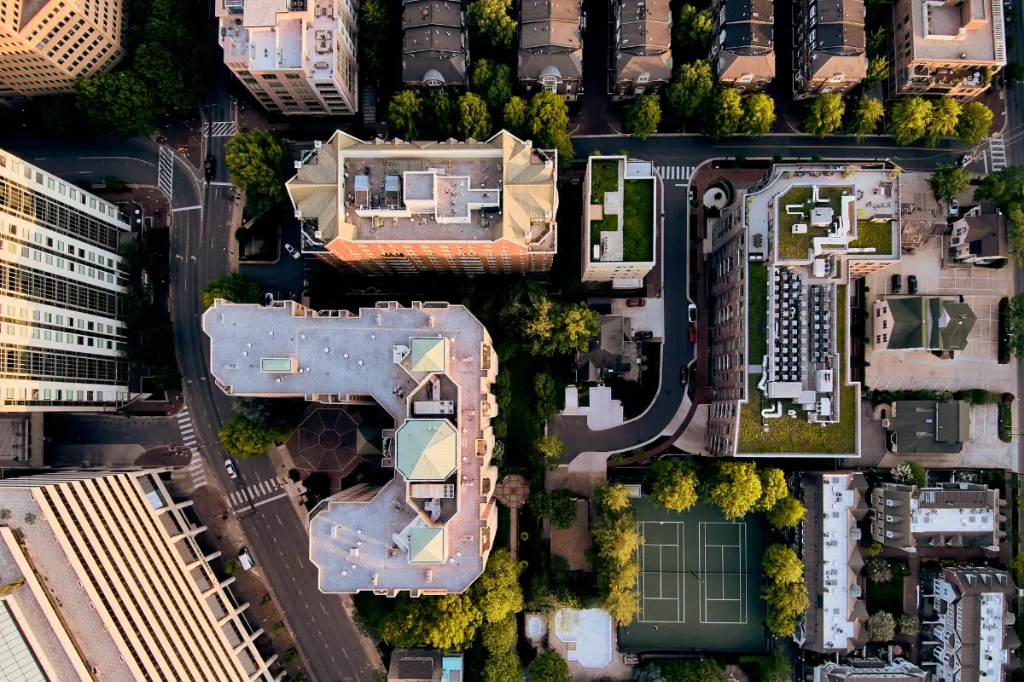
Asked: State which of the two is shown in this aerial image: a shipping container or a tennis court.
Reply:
tennis court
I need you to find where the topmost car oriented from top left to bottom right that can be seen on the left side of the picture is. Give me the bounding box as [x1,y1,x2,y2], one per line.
[284,243,302,260]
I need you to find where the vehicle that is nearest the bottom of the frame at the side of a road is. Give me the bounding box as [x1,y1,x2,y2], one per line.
[239,546,253,571]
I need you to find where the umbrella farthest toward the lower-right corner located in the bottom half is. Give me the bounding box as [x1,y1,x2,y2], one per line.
[889,643,904,658]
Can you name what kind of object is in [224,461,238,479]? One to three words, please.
car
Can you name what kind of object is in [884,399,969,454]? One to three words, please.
building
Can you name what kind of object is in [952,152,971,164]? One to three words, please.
vehicle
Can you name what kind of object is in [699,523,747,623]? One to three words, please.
tennis court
